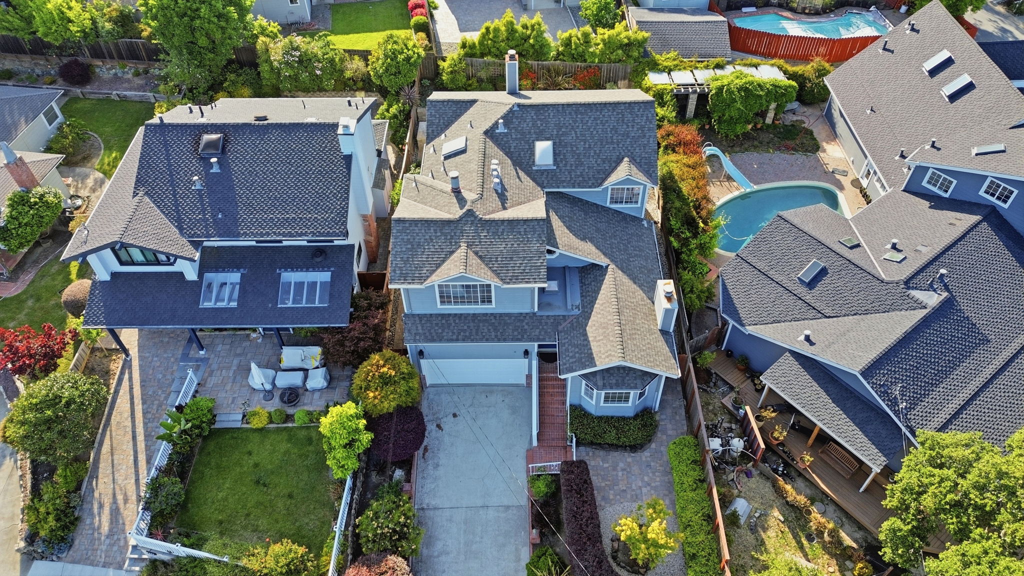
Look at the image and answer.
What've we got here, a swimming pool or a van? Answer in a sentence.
Of the two, only a swimming pool appears.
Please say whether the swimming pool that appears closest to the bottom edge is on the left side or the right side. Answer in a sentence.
It is on the right.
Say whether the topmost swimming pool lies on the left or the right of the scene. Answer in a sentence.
The topmost swimming pool appears in the right half of the scene.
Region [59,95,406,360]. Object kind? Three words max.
house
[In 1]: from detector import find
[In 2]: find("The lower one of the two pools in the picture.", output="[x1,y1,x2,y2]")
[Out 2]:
[713,181,854,259]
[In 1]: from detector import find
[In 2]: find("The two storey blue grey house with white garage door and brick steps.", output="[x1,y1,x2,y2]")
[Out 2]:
[388,47,684,423]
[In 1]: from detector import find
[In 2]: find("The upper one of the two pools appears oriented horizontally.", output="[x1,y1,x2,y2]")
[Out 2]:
[732,9,891,46]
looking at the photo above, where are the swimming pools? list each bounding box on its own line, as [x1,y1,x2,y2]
[732,9,891,46]
[713,181,854,259]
